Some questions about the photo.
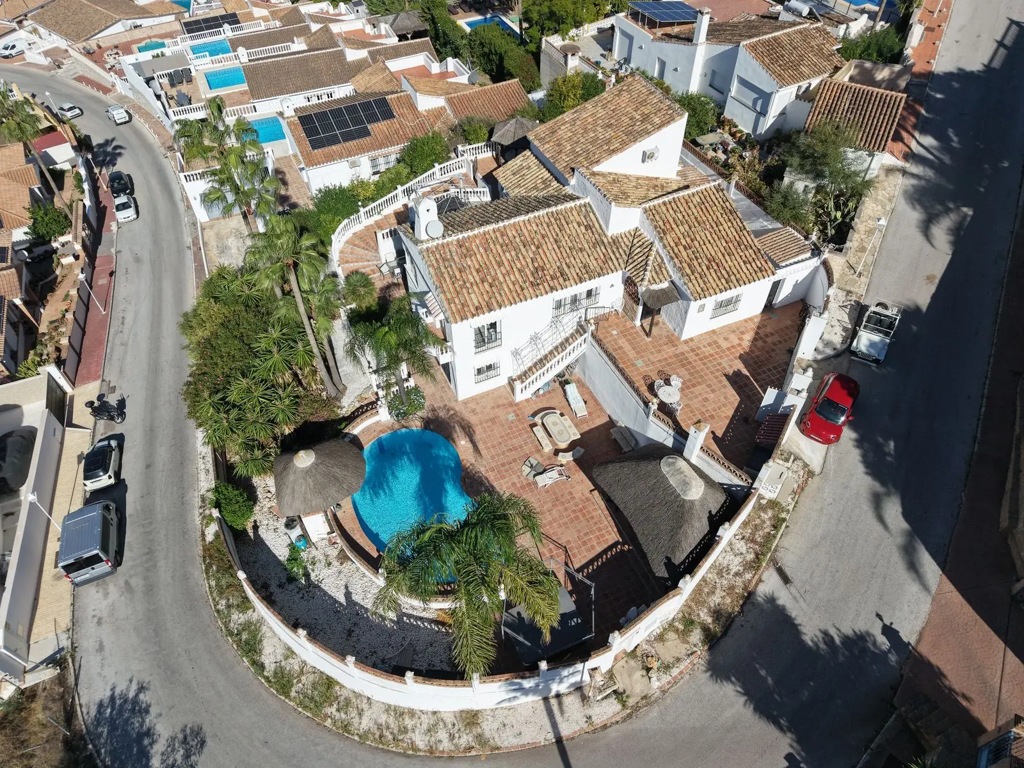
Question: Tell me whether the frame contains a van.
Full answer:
Yes, you can see a van in this photo.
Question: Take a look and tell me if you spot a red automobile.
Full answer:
Yes, there's a red automobile here.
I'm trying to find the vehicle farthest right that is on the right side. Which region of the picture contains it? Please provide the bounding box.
[850,292,909,368]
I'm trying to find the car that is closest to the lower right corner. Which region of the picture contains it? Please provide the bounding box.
[802,369,867,444]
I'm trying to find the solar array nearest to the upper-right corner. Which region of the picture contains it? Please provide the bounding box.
[623,1,717,42]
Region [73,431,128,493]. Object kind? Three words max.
car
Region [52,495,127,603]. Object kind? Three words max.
van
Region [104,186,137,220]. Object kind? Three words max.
car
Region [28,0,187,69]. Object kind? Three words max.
house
